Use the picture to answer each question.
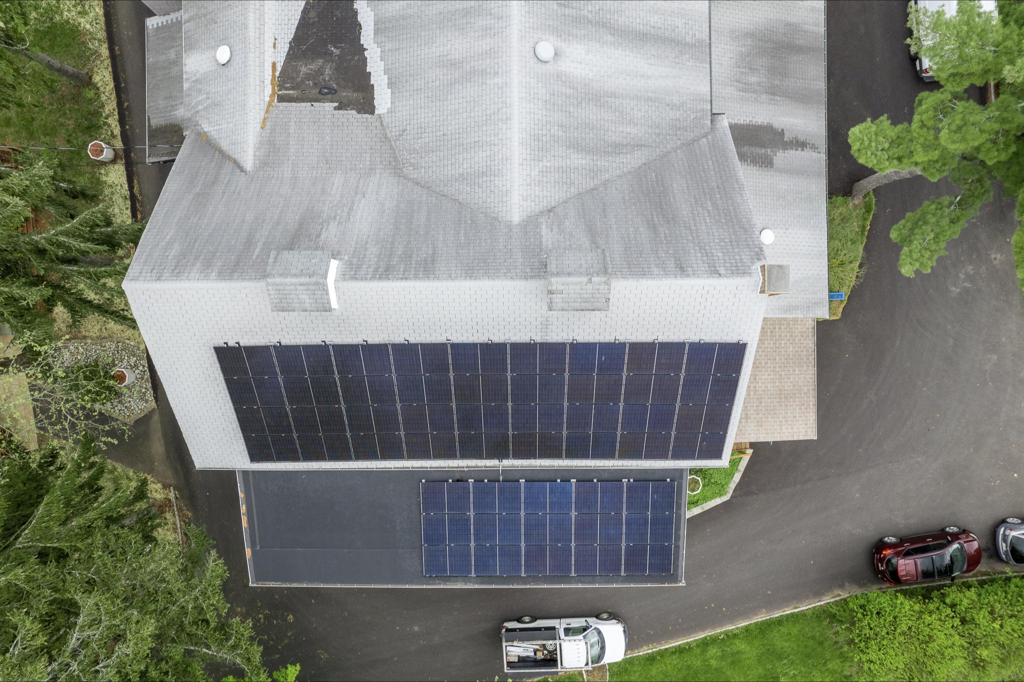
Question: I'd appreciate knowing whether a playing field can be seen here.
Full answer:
No, the picture doesn't show any playing field.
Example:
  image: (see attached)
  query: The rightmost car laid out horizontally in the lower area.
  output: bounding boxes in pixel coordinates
[870,526,983,587]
